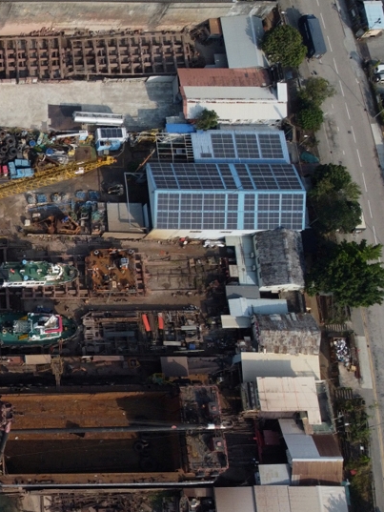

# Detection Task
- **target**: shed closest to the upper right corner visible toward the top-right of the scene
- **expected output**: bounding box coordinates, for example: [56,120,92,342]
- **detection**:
[357,0,384,34]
